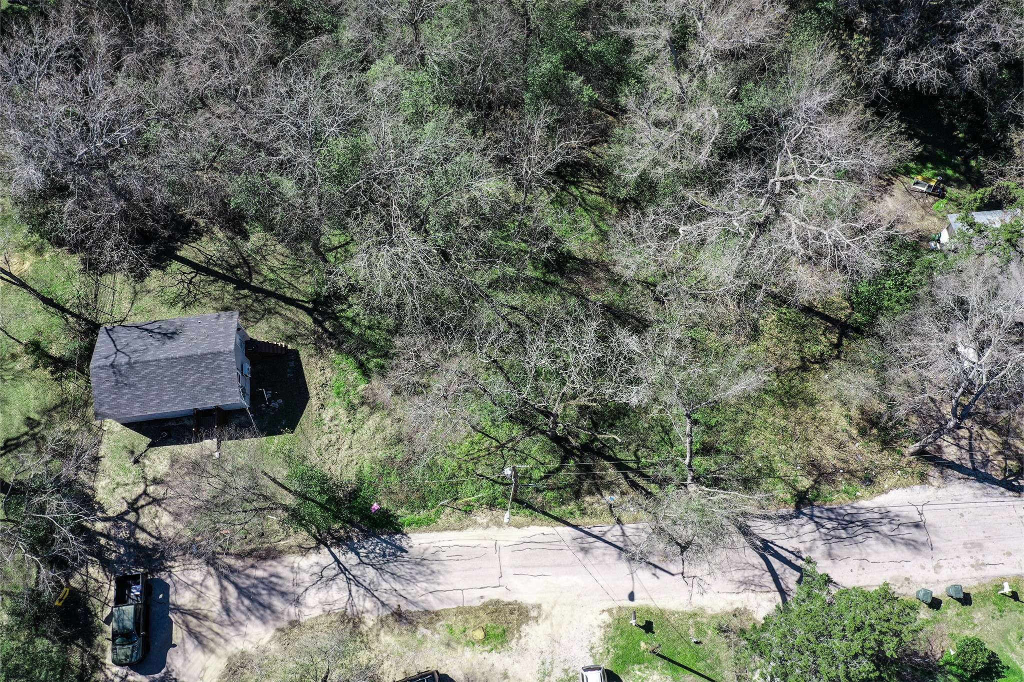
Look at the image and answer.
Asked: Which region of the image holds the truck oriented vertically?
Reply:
bottom left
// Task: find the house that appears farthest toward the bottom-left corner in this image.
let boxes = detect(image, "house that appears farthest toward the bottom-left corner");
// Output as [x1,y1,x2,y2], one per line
[91,311,293,451]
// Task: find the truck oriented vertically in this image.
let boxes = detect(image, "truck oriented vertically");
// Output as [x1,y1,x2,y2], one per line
[104,567,153,670]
